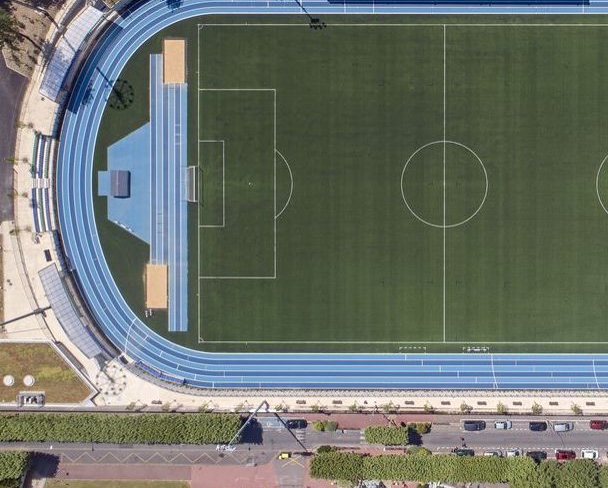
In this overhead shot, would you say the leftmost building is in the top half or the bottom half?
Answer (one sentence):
Seen from above, the leftmost building lies in the bottom half of the view.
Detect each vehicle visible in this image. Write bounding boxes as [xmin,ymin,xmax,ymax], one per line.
[286,419,308,429]
[454,447,475,457]
[463,420,486,430]
[588,420,608,431]
[525,449,548,461]
[279,451,290,460]
[482,448,502,458]
[527,421,548,431]
[553,448,576,460]
[493,420,513,431]
[552,421,574,432]
[504,448,525,460]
